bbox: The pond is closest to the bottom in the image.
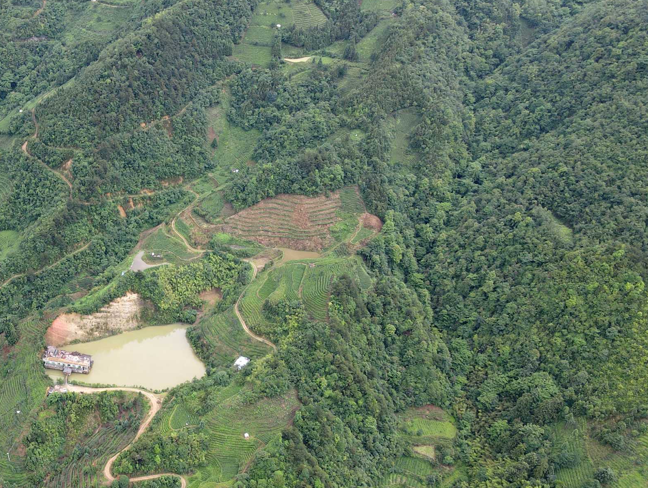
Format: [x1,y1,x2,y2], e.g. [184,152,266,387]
[46,323,207,390]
